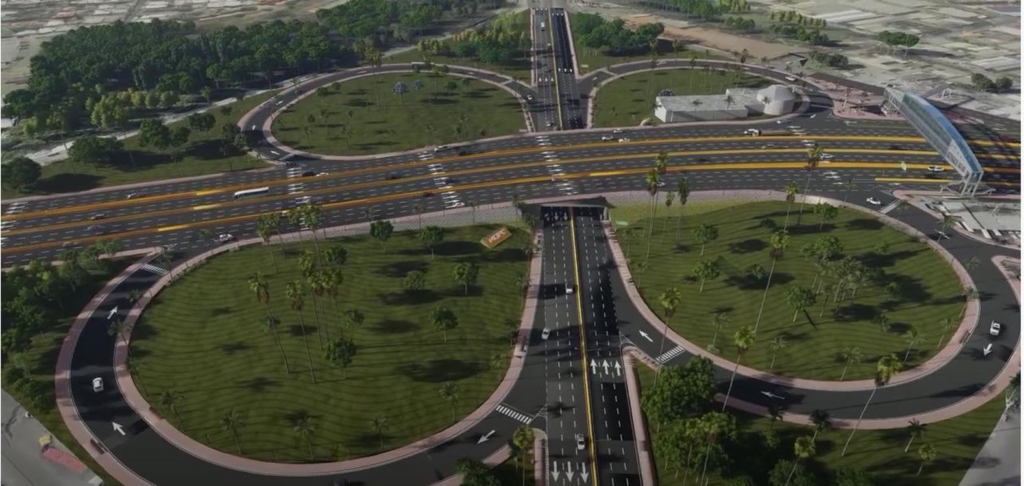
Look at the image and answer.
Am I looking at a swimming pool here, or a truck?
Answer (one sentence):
Visible in the photo is a truck.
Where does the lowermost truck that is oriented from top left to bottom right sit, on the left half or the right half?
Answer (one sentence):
It is on the left.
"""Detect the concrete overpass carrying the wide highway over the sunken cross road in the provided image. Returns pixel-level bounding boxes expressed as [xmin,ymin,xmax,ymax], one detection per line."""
[530,195,615,233]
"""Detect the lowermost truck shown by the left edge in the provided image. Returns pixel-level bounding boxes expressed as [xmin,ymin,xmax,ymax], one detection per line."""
[40,434,81,466]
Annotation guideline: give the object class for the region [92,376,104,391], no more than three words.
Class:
vehicle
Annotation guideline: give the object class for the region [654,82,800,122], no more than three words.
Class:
building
